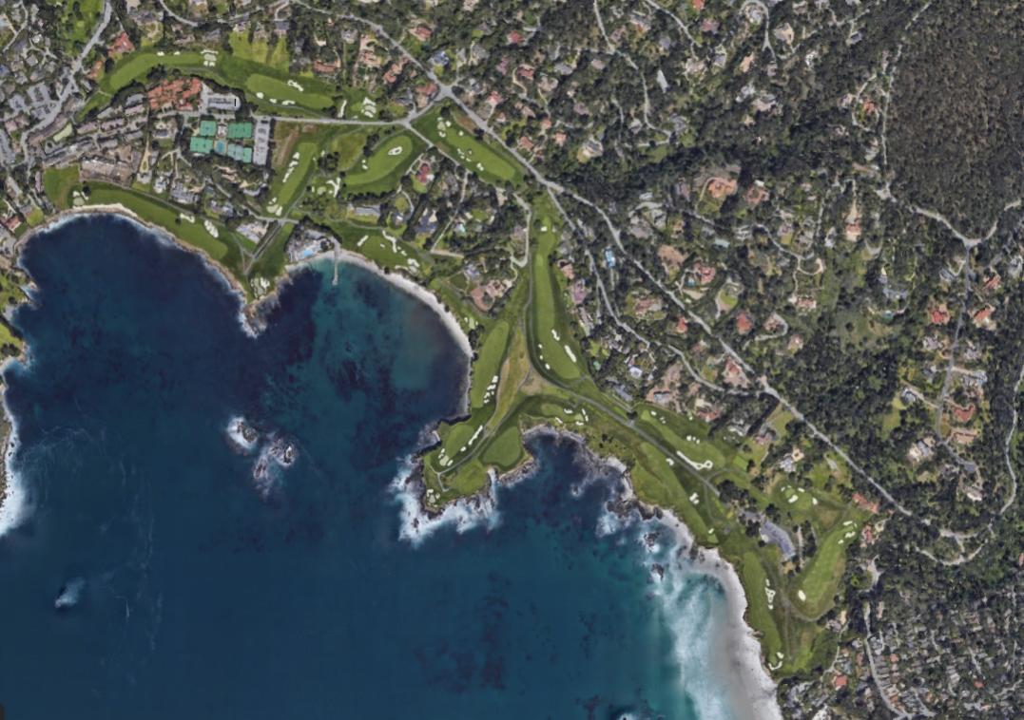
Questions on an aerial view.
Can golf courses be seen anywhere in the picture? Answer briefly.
Yes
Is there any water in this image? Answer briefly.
Yes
